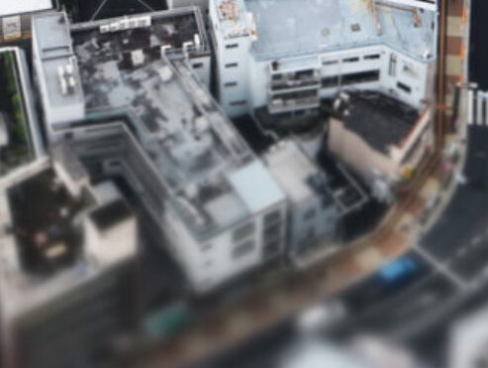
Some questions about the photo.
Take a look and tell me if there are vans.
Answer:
Yes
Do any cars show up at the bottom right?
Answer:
Yes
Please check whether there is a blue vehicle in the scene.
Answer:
Yes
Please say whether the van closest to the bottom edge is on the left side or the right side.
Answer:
right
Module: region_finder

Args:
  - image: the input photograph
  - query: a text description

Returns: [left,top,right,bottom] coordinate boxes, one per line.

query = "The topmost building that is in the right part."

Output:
[208,0,439,113]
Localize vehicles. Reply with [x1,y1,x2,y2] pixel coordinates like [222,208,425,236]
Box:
[374,256,418,289]
[294,301,346,338]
